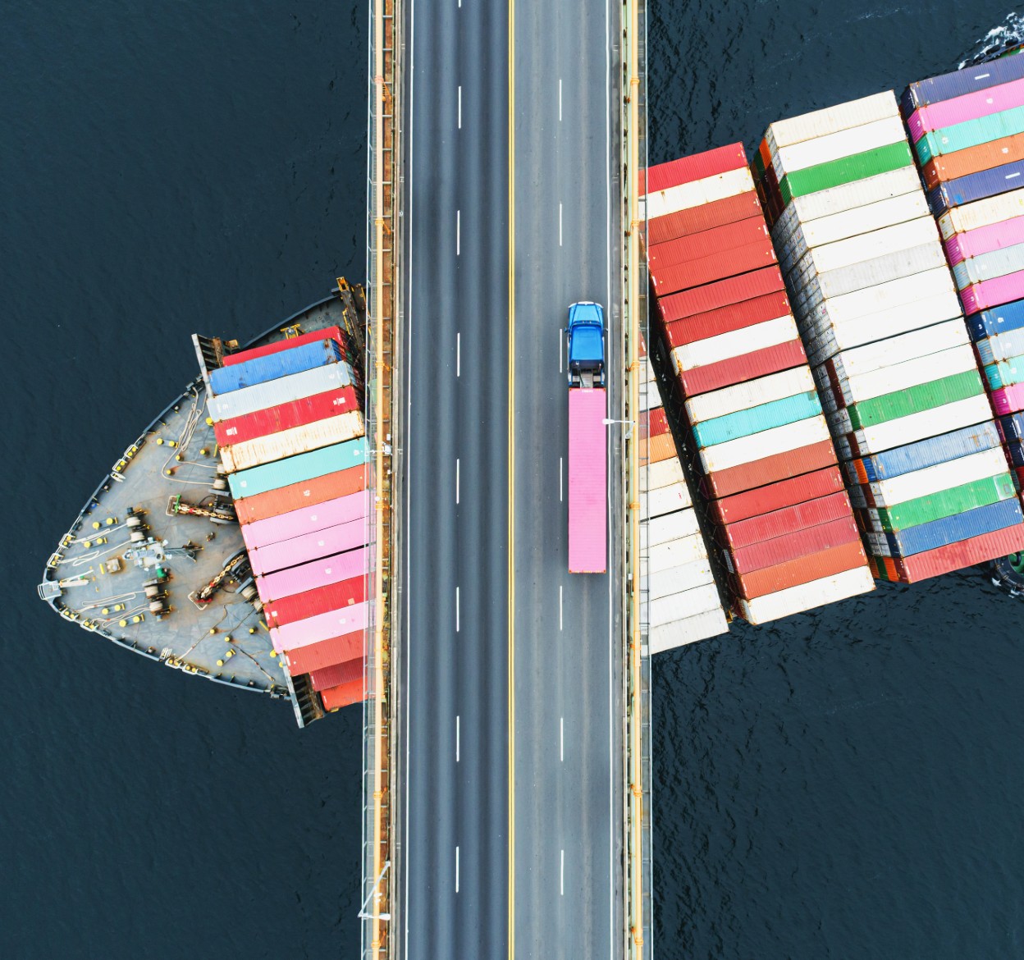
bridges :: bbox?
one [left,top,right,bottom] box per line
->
[361,0,653,960]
